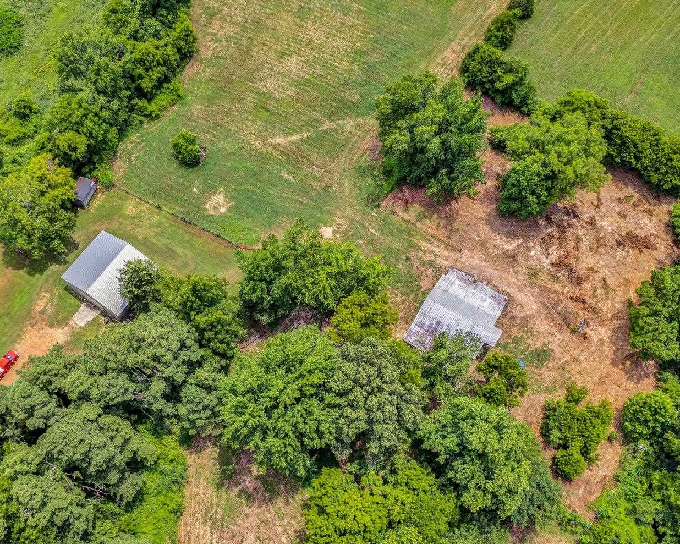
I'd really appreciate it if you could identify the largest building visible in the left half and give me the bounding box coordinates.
[61,229,161,314]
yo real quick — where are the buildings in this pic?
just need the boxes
[405,269,508,362]
[67,174,95,207]
[61,229,161,314]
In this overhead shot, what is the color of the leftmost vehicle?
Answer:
red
